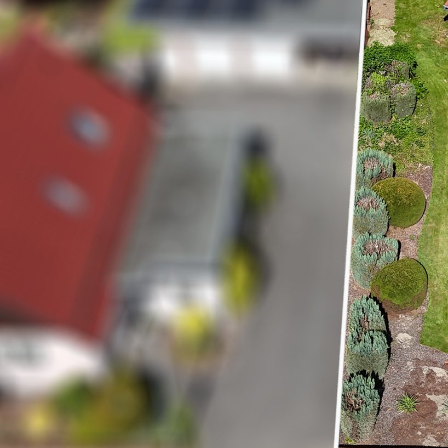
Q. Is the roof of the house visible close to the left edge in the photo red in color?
Yes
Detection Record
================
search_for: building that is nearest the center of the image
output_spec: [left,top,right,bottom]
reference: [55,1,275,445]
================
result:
[125,127,252,306]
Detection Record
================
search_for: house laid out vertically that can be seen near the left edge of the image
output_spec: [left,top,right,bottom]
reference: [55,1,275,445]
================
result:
[0,29,161,383]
